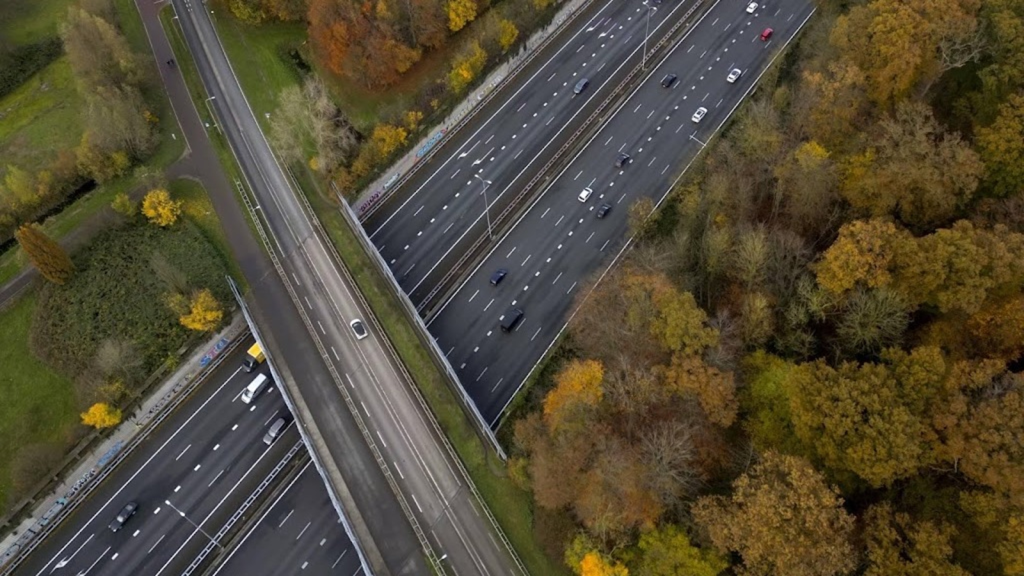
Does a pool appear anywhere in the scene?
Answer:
No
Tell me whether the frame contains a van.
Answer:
Yes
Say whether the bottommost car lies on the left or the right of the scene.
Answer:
left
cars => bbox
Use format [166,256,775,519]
[745,2,759,15]
[651,0,664,8]
[488,268,509,289]
[350,318,370,342]
[661,75,676,89]
[595,203,613,221]
[260,418,289,446]
[107,501,140,532]
[760,29,772,42]
[726,69,741,84]
[573,77,590,94]
[691,108,707,123]
[577,188,594,204]
[614,153,630,169]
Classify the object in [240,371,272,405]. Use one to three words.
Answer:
van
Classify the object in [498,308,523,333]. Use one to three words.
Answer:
vehicle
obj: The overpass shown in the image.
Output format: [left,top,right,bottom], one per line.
[231,193,507,576]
